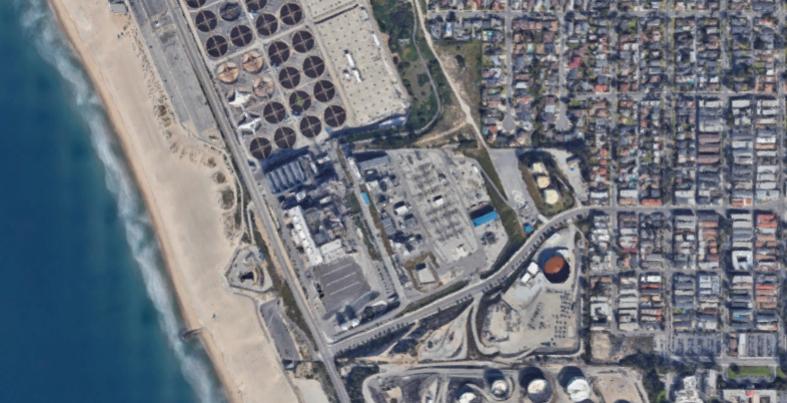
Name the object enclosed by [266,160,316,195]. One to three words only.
building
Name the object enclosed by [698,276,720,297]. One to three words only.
building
